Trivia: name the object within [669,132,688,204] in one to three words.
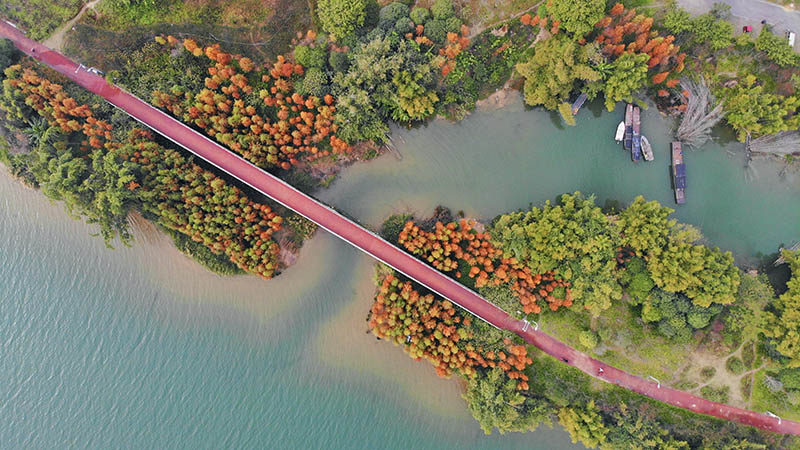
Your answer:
vessel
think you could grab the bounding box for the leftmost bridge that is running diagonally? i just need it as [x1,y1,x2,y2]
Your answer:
[102,82,506,328]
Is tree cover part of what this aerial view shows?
Yes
